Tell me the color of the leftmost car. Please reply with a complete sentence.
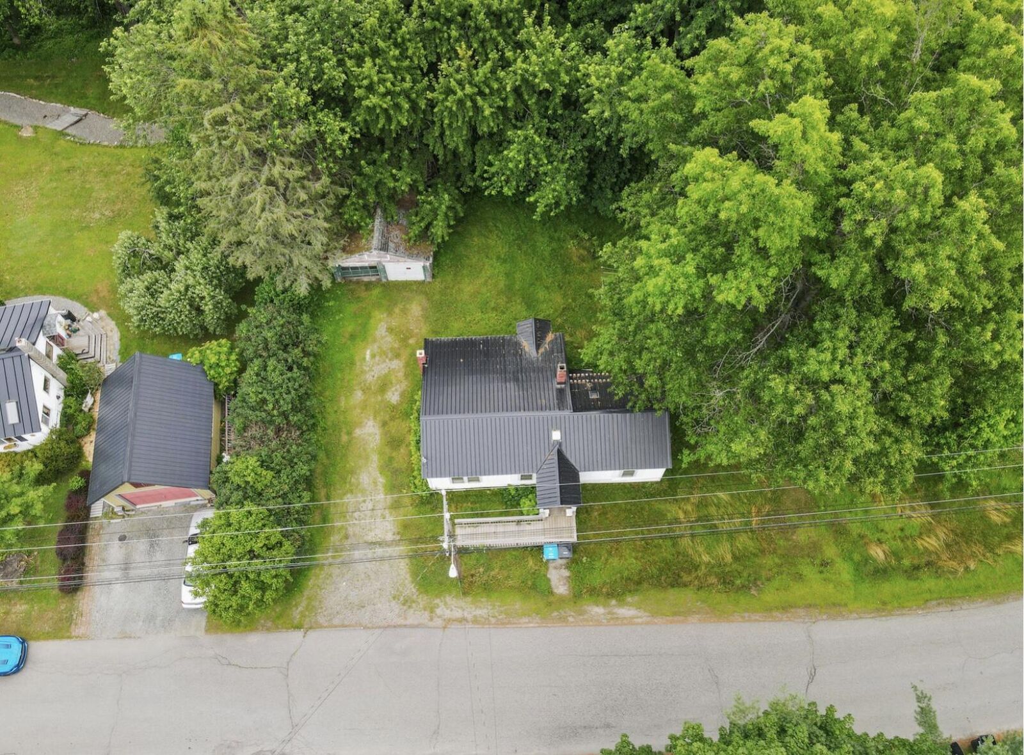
The color of the leftmost car is blue.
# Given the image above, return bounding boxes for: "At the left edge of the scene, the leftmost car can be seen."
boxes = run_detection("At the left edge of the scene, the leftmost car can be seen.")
[0,633,33,678]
